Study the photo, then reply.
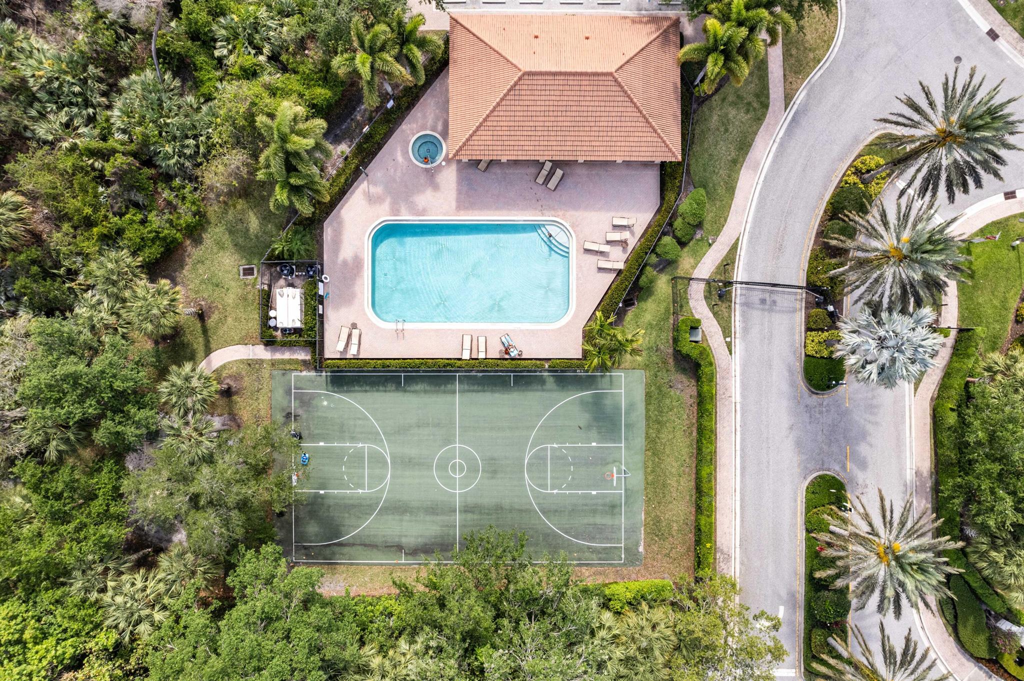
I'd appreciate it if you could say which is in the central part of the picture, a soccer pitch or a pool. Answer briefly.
pool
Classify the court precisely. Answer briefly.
basketball court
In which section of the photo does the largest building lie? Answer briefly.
top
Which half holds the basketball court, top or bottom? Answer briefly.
bottom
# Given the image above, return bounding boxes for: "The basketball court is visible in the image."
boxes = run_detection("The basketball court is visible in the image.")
[272,370,645,567]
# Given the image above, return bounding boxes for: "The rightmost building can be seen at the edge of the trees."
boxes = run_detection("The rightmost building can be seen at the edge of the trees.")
[447,12,683,166]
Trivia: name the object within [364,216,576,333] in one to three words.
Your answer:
swimming pool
